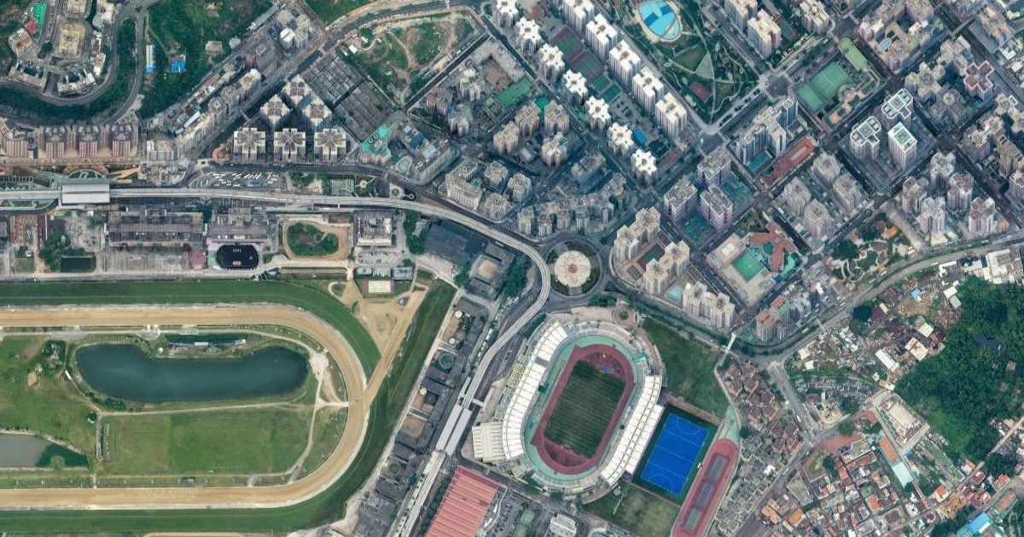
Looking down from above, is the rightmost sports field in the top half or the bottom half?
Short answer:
top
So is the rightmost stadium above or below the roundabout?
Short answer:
below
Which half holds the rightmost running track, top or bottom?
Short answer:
bottom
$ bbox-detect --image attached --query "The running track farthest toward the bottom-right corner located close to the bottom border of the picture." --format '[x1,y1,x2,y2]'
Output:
[670,437,742,537]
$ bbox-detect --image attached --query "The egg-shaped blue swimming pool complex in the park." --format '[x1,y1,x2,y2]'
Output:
[635,0,683,44]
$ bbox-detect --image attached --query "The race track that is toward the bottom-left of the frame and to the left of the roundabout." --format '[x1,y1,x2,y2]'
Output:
[0,279,457,534]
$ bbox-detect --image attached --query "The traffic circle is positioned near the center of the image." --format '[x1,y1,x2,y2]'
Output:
[533,230,612,310]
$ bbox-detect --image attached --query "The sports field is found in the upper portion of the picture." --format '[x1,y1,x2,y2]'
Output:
[796,59,853,111]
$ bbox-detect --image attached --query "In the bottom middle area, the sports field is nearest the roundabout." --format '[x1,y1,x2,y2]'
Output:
[544,361,625,457]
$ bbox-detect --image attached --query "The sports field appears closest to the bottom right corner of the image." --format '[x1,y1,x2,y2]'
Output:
[632,404,718,506]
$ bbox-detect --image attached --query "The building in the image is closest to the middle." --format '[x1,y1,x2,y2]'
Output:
[469,244,515,300]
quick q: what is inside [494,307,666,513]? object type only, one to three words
stadium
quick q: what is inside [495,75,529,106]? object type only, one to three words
sports court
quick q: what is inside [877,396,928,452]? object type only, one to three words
building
